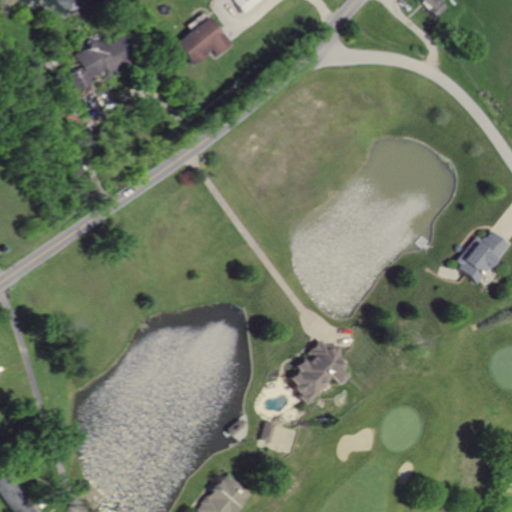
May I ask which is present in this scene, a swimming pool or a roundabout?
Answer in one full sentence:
Visible in the photo is a swimming pool.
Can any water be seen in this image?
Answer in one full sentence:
Yes, some water is visible.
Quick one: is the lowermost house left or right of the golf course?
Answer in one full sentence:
The lowermost house is to the left of the golf course.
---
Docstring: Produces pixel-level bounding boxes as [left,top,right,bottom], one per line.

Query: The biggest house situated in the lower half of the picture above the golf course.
[286,343,350,400]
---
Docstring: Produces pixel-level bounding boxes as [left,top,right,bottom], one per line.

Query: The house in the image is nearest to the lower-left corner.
[194,474,265,512]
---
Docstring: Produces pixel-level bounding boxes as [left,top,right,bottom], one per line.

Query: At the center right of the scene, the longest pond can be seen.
[290,137,455,318]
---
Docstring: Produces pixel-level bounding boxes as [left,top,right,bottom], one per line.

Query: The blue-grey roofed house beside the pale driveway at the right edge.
[456,232,508,280]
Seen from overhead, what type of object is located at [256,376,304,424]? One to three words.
swimming pool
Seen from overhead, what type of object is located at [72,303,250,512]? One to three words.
pond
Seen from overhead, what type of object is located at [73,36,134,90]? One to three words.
house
